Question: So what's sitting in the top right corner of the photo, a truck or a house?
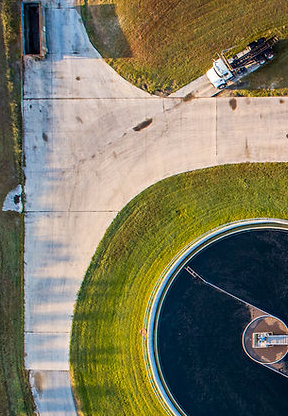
truck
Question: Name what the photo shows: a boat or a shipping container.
shipping container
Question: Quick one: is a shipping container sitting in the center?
No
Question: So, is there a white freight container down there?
No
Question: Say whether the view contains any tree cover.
No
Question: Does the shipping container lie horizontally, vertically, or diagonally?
vertically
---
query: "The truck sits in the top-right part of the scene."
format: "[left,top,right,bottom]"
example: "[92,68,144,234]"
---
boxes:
[204,33,278,91]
